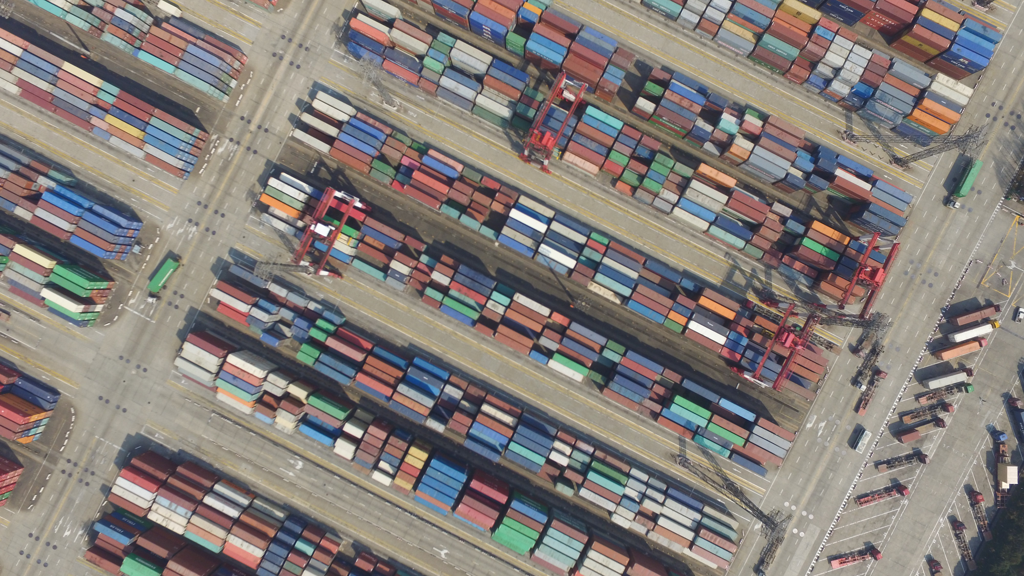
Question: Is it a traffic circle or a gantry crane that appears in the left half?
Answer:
gantry crane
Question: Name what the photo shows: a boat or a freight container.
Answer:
freight container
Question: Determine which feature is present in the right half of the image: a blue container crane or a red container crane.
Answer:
red container crane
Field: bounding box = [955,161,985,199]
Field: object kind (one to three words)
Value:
shipping container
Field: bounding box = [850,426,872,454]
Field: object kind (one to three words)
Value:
bus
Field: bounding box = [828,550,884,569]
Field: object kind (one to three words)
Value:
vehicle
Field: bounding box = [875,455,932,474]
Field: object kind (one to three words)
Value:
vehicle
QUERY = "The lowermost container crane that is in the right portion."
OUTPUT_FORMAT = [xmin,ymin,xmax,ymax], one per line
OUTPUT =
[727,300,817,390]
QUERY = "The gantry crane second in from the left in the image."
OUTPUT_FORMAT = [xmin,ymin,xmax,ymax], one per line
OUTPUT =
[516,72,585,172]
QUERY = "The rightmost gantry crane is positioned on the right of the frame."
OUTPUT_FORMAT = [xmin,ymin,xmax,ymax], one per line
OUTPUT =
[806,233,904,321]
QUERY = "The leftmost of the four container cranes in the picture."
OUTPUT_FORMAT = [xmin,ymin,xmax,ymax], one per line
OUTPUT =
[289,185,375,277]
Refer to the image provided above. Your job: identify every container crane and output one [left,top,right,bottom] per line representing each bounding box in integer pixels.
[289,185,375,277]
[806,233,904,321]
[516,72,585,172]
[727,300,817,390]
